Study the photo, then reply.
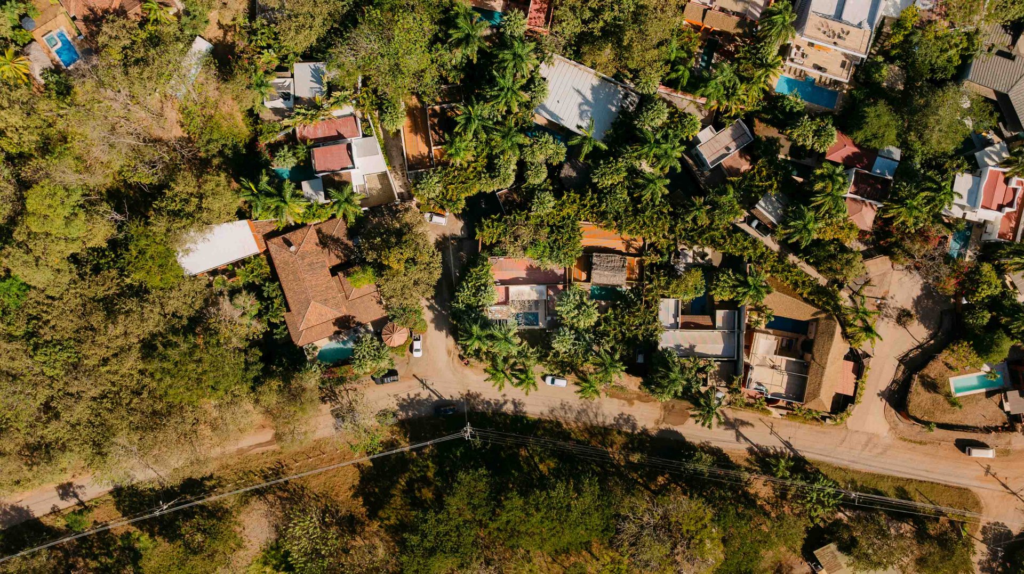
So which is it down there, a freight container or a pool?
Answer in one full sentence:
It is a pool that can be seen here.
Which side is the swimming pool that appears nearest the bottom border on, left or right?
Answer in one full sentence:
The swimming pool that appears nearest the bottom border sits on the right side.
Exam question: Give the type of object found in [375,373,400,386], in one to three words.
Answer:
vehicle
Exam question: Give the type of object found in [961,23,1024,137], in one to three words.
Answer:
house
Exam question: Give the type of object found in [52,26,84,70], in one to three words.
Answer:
swimming pool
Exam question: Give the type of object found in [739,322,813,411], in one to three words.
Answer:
building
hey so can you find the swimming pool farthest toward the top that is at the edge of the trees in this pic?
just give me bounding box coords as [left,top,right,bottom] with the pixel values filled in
[470,5,506,29]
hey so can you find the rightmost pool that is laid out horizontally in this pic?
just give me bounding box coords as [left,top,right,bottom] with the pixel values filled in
[948,364,1008,398]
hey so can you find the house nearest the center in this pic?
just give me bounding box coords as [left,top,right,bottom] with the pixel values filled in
[489,258,568,328]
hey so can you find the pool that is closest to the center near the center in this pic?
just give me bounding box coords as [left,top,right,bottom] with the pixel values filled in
[515,311,540,327]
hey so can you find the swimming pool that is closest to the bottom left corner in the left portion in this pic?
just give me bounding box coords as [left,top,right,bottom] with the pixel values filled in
[315,329,361,366]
